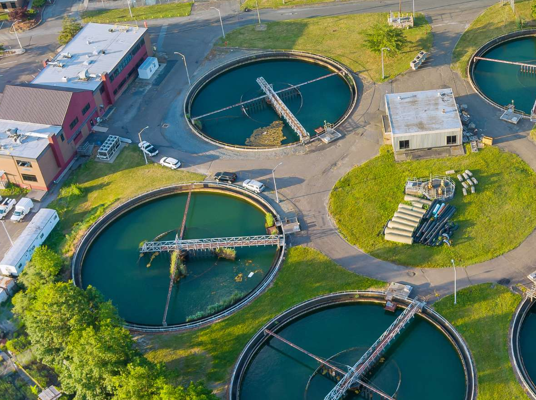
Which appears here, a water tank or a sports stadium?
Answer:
water tank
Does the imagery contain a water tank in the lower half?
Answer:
Yes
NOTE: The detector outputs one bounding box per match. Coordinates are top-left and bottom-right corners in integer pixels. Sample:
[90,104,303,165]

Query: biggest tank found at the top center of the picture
[183,49,358,152]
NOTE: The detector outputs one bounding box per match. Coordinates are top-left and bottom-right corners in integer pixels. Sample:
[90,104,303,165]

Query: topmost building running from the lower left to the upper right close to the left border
[0,21,155,193]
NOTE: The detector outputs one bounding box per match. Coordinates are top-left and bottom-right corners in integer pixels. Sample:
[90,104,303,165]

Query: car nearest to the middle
[241,180,266,192]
